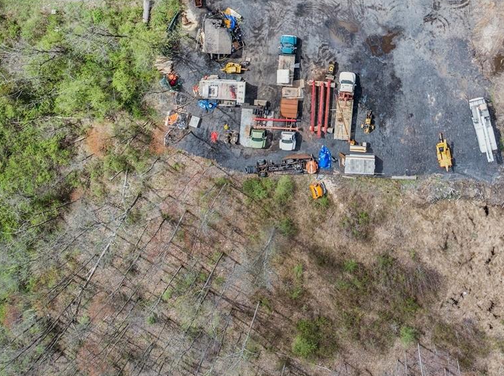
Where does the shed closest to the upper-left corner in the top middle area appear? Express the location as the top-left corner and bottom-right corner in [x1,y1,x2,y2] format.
[201,24,233,64]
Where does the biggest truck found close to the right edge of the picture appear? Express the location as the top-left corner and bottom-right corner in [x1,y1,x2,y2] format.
[469,94,497,164]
